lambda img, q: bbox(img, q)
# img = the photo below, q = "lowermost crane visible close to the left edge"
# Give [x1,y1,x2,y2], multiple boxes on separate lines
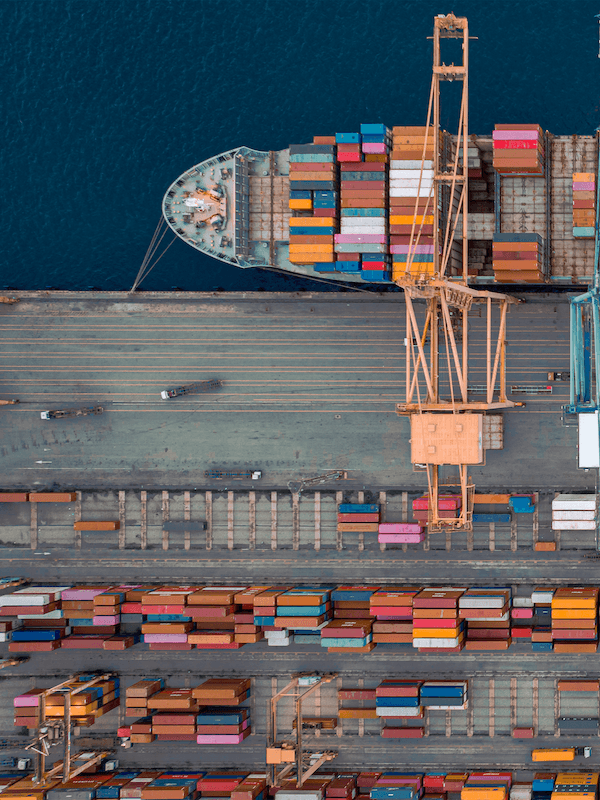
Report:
[26,676,116,790]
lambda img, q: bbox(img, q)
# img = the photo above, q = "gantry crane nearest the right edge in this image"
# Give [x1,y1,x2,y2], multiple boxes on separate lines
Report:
[560,30,600,532]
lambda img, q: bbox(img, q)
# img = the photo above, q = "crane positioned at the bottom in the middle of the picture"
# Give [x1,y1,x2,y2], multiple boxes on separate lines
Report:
[265,677,332,792]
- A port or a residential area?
port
